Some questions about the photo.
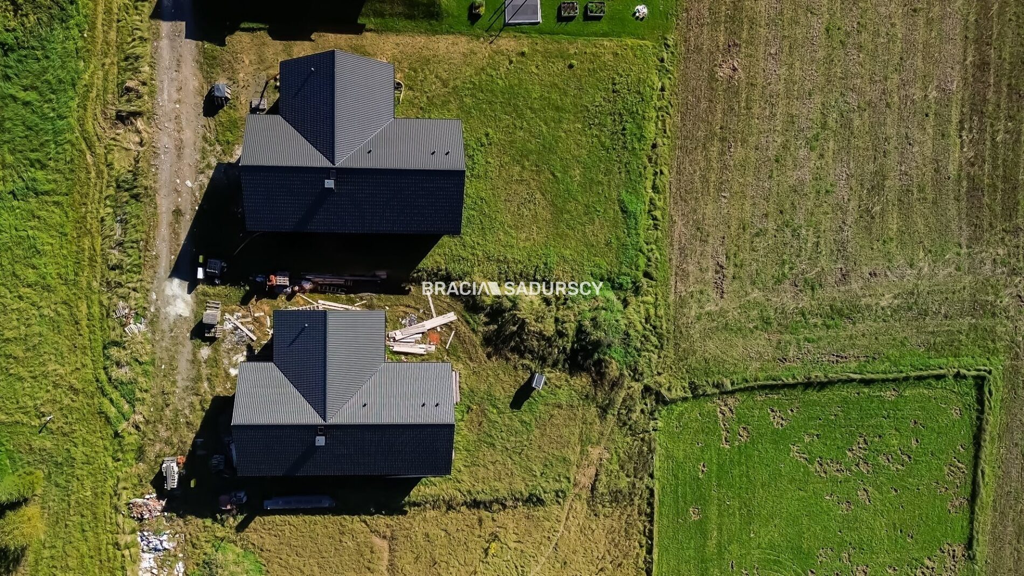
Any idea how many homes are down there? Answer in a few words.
2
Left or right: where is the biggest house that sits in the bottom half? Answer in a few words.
left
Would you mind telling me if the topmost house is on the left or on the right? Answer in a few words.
left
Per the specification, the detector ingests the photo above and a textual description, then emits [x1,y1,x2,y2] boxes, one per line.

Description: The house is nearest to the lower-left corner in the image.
[230,310,455,477]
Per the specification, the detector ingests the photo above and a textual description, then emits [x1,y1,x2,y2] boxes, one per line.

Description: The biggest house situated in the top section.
[239,49,466,236]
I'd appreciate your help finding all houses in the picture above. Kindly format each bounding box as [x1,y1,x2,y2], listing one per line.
[230,310,455,477]
[239,49,466,236]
